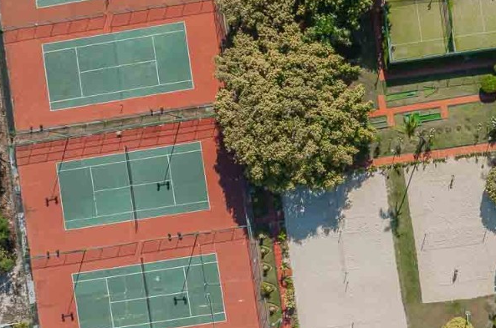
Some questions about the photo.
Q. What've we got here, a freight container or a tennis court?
tennis court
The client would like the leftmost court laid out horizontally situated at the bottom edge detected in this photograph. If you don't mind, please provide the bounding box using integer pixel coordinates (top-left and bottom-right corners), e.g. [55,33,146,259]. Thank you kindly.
[32,226,261,328]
